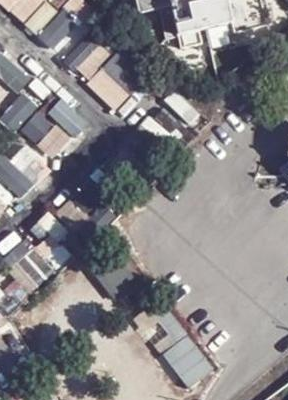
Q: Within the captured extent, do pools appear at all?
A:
No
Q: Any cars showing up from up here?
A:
Yes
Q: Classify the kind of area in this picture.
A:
residential area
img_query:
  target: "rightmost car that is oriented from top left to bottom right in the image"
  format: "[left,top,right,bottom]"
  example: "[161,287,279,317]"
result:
[225,112,246,132]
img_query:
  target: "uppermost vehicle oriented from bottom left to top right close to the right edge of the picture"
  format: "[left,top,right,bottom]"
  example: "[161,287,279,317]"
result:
[270,191,288,208]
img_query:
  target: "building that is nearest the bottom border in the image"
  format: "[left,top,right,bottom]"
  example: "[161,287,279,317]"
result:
[162,336,214,388]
